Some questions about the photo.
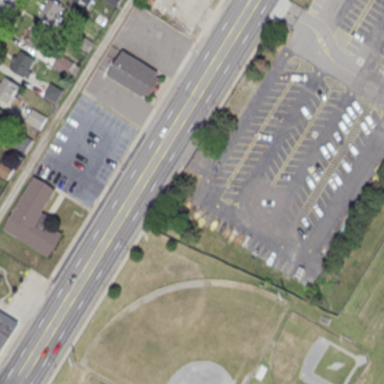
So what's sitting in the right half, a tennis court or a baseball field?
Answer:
baseball field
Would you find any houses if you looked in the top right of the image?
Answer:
No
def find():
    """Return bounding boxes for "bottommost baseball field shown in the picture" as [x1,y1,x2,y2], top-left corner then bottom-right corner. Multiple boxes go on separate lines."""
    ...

[300,338,368,384]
